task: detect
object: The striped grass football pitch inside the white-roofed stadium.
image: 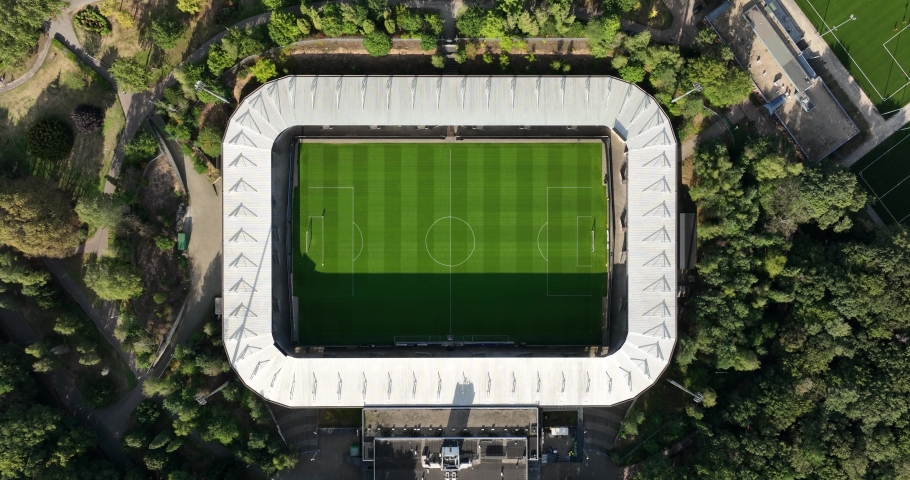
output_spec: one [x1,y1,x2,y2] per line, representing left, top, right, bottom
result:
[295,142,606,345]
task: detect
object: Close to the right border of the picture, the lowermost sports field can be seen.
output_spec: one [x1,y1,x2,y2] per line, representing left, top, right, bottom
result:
[848,121,910,236]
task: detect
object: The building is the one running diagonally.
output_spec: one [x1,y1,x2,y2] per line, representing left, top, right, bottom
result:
[699,0,858,159]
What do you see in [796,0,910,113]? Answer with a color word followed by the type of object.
green sports field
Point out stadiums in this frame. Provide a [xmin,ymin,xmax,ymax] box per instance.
[220,72,680,412]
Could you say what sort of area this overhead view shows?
sports ground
